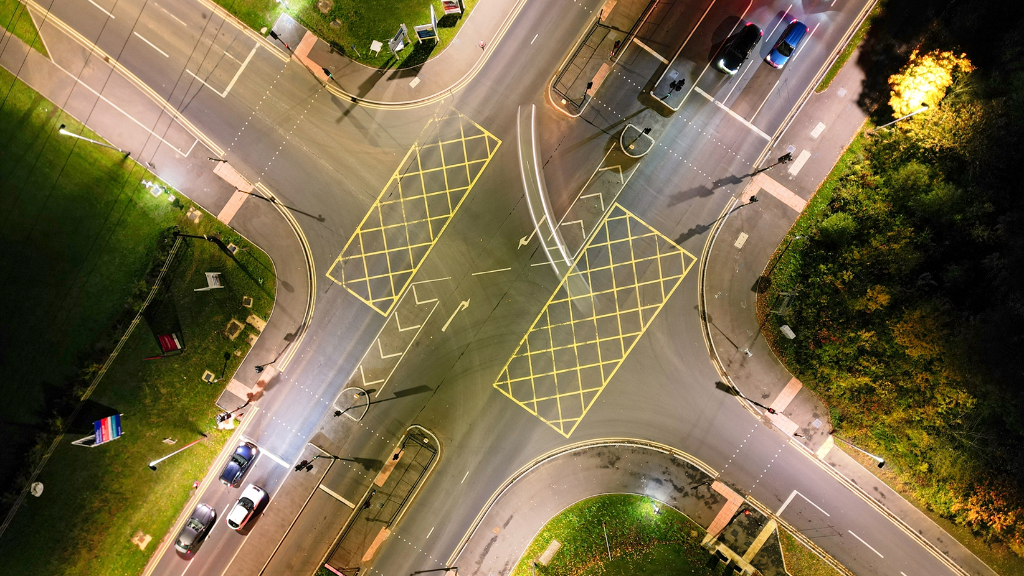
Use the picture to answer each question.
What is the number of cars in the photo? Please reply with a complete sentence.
There are 5 cars in the image.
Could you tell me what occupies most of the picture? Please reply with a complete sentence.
The bulk of the photo consists of paved ground.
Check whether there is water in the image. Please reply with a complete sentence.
No, there is no water in the image.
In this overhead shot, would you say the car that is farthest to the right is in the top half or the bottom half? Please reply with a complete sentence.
The car that is farthest to the right sits in the top half of the picture.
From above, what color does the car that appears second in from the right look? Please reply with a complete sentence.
The car that appears second in from the right is black.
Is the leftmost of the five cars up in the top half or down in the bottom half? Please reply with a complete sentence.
The leftmost of the five cars is in the bottom half of the image.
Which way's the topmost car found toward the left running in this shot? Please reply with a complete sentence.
From this overhead view, the topmost car found toward the left appears to run on a diagonal.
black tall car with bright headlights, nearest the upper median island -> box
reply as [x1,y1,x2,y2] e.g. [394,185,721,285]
[716,19,765,78]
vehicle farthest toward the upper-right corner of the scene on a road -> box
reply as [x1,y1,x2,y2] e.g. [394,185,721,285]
[765,16,811,71]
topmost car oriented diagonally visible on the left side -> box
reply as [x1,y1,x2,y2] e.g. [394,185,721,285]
[218,437,263,490]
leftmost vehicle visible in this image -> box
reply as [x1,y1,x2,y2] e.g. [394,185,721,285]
[170,500,220,560]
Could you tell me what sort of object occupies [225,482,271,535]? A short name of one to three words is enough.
car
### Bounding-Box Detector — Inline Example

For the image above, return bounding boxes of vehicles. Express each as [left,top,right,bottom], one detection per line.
[170,500,220,560]
[225,482,271,535]
[716,19,765,78]
[218,437,263,490]
[765,16,811,71]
